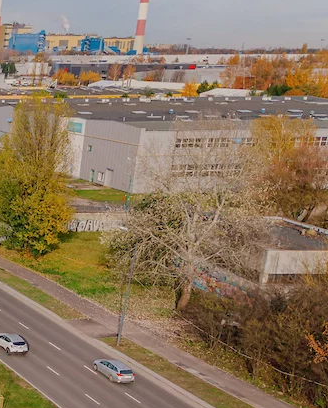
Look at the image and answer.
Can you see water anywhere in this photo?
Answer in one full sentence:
No, there's no water in this view.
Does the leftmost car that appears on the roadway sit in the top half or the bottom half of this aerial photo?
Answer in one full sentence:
You can find the leftmost car that appears on the roadway in the bottom half.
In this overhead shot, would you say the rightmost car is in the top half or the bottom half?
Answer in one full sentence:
The rightmost car sits in the bottom half of the picture.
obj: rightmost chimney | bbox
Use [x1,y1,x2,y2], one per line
[134,0,148,53]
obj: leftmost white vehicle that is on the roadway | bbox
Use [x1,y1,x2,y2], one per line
[0,333,33,355]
